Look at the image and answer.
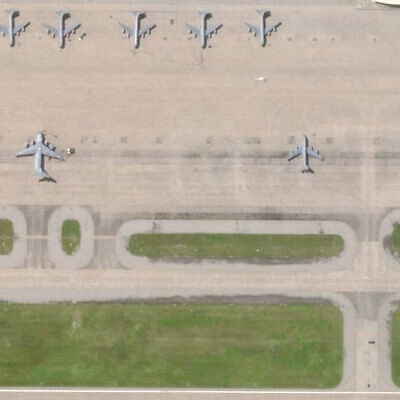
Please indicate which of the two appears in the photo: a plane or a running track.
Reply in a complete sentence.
This aerial view contains a plane.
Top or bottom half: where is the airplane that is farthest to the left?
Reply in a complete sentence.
The airplane that is farthest to the left sits in the top half of the picture.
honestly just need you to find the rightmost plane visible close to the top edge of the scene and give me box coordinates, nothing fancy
[244,9,281,47]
